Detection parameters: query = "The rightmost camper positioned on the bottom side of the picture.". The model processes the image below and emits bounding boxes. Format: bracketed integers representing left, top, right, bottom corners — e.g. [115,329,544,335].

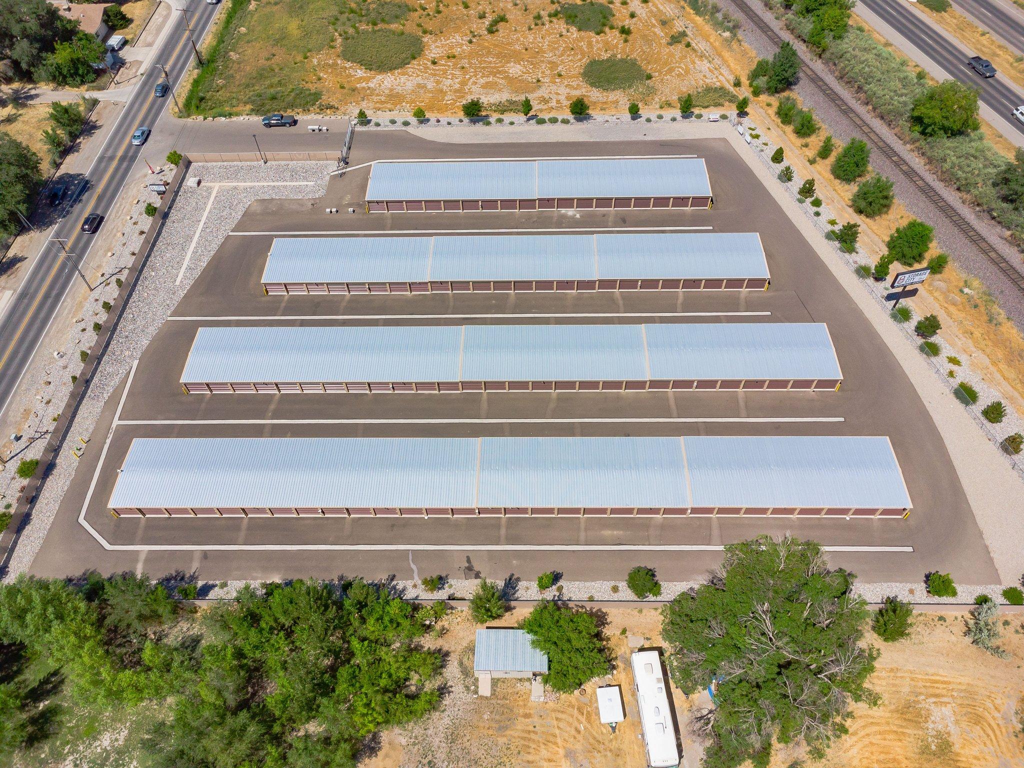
[631,652,678,768]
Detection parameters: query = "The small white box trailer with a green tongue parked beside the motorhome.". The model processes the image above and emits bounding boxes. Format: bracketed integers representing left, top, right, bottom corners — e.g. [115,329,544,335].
[597,686,623,741]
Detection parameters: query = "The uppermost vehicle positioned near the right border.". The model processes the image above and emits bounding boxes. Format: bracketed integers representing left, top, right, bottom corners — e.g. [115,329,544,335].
[969,57,998,76]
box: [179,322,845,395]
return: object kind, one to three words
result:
building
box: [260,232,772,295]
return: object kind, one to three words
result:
building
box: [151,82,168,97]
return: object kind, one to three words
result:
car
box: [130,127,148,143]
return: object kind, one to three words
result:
car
